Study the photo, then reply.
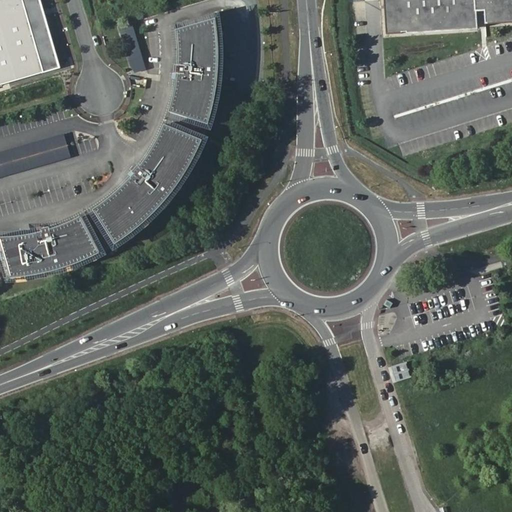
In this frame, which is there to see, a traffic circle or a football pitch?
traffic circle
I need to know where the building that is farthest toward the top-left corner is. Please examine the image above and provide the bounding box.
[0,0,60,86]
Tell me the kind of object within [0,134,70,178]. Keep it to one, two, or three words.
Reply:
shed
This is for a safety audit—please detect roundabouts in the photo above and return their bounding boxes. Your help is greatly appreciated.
[256,176,400,320]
